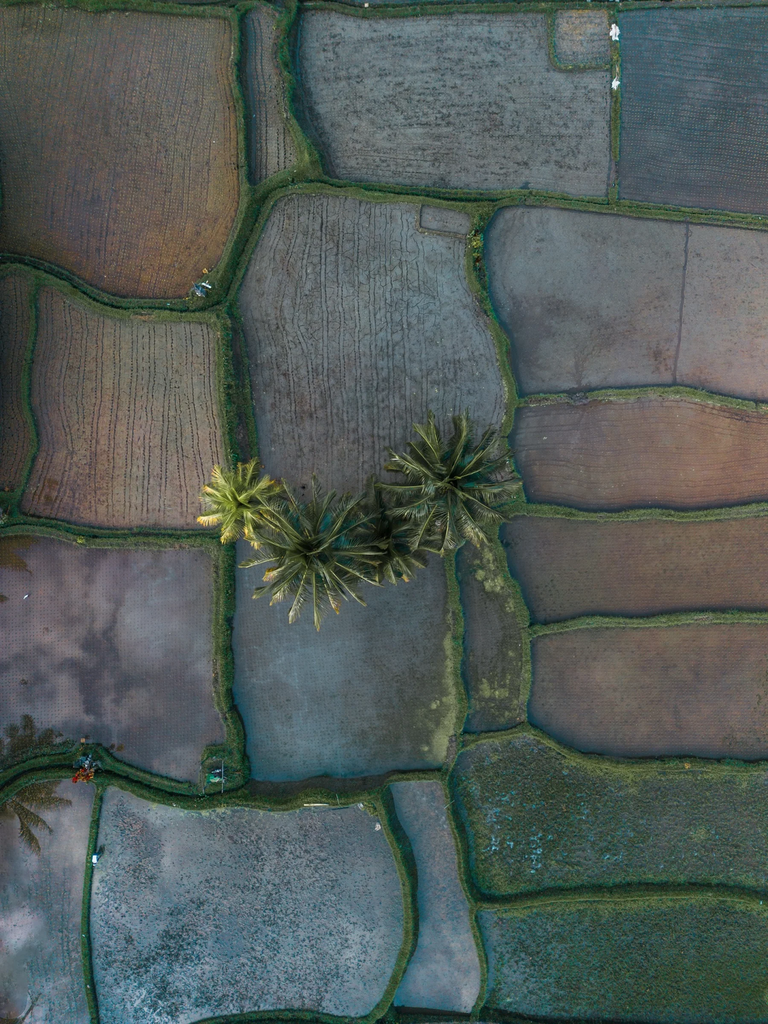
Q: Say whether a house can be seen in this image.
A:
No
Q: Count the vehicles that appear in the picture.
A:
0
